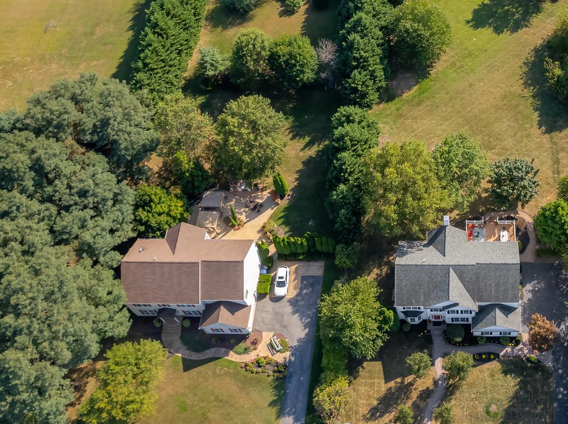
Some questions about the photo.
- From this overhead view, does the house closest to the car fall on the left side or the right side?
left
